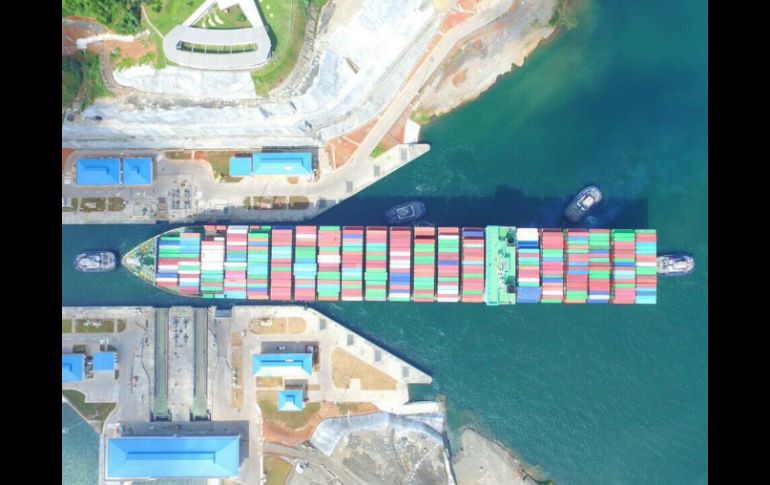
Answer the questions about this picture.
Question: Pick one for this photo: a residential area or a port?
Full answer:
What you see here is a port.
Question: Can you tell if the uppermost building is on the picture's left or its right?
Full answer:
The uppermost building appears in the left half of the scene.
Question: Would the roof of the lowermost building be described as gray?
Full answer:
No, the roof of the lowermost building is blue.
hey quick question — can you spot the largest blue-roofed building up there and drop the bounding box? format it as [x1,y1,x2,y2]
[107,434,242,478]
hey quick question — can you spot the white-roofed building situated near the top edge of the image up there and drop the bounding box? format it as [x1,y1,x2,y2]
[162,0,273,73]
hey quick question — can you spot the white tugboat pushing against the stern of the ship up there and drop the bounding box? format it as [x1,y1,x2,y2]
[656,255,696,276]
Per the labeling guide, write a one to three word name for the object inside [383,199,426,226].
boat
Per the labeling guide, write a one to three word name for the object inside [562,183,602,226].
boat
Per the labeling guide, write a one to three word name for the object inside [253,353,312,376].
building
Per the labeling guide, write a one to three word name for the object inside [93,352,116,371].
building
